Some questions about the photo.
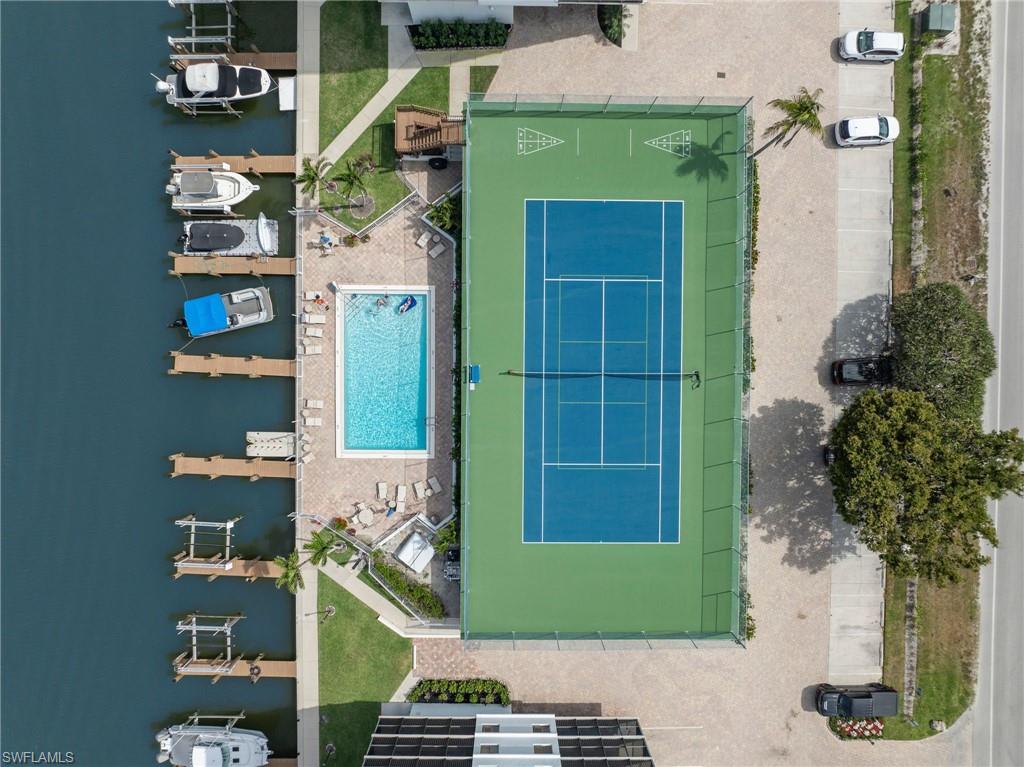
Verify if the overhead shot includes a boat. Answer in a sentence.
Yes, the frame does contain a boat.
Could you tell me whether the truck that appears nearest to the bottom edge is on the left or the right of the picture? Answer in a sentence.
The truck that appears nearest to the bottom edge appears in the right half of the scene.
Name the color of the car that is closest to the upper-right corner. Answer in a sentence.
The color of the car that is closest to the upper-right corner is white.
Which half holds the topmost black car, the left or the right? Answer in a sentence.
The topmost black car sits on the right side.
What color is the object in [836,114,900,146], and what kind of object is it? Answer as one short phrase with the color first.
white car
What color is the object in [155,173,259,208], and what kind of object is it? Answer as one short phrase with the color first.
white boat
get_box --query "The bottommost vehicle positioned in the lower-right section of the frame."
[818,685,899,720]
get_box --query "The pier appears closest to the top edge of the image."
[171,40,295,71]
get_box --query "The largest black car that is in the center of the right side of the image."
[832,358,896,387]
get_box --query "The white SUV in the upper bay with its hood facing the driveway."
[840,26,908,61]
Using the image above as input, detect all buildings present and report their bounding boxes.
[378,0,641,9]
[363,711,656,767]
